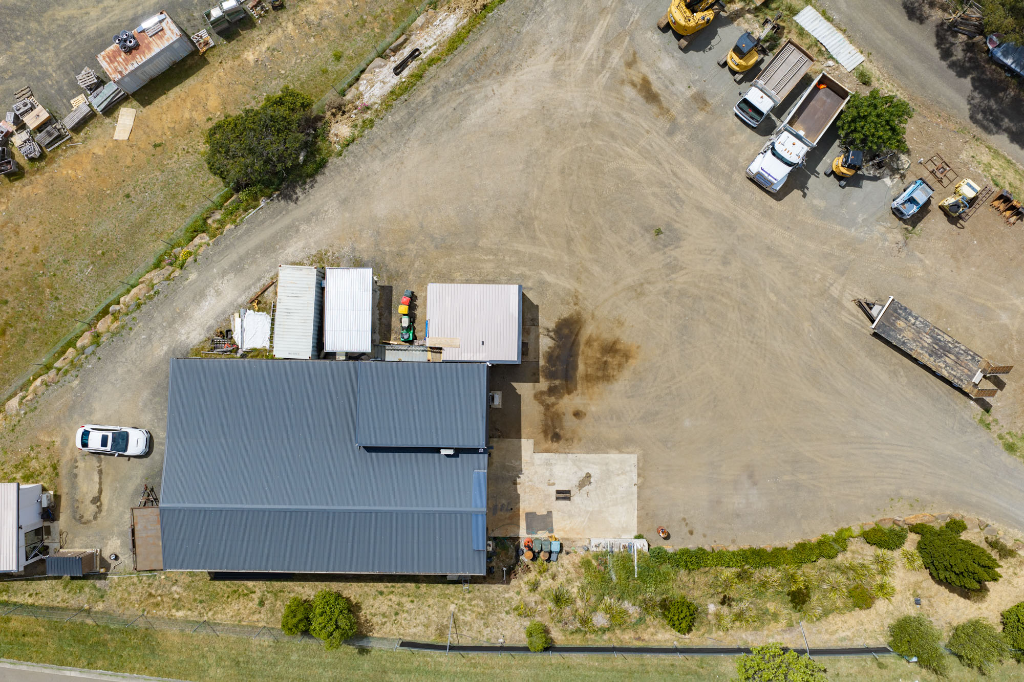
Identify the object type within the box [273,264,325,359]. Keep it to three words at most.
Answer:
shipping container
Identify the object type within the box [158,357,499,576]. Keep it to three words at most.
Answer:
building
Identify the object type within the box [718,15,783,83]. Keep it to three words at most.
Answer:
work vehicle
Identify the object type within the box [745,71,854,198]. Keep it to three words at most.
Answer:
truck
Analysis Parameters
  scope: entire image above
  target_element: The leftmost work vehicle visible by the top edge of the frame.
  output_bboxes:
[656,0,727,54]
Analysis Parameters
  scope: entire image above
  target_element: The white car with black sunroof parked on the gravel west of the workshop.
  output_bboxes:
[75,425,149,458]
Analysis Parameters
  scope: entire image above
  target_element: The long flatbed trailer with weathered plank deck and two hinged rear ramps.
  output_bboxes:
[857,295,1010,396]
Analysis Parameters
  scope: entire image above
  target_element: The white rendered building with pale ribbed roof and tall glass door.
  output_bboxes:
[0,483,42,574]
